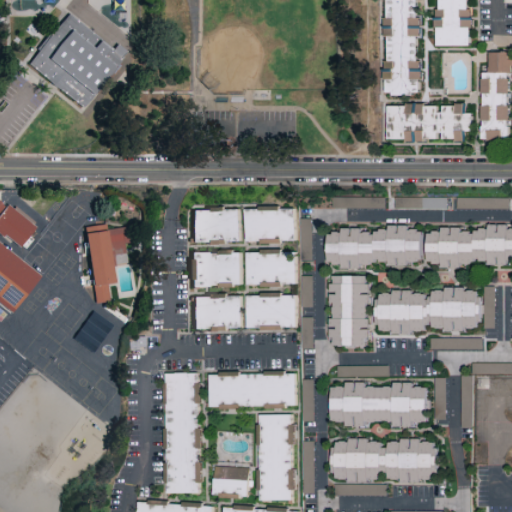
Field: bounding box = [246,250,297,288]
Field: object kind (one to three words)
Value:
building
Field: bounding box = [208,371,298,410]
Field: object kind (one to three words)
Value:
building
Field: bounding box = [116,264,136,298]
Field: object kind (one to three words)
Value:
swimming pool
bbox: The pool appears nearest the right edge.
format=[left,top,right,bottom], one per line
[443,52,472,94]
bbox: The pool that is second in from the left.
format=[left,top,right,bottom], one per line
[217,432,254,462]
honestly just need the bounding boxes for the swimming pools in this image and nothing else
[217,432,254,462]
[443,52,472,94]
[116,264,136,298]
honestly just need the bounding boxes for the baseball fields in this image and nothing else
[196,0,334,92]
